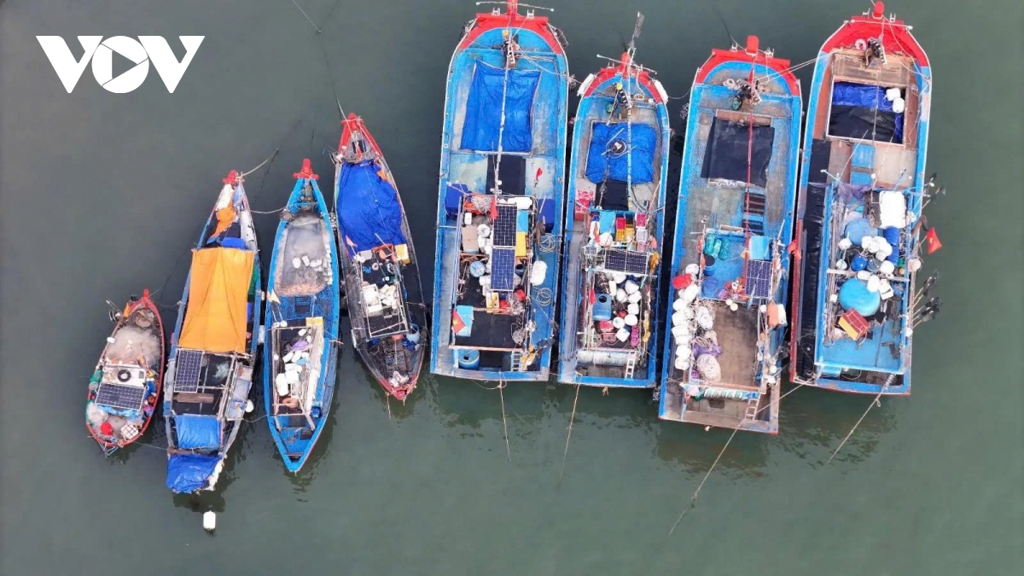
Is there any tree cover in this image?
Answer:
No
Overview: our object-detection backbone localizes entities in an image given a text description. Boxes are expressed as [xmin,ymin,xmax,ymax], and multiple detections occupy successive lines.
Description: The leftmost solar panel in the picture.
[94,382,146,412]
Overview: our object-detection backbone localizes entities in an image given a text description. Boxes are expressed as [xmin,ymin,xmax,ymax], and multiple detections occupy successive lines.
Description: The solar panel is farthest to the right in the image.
[745,258,771,300]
